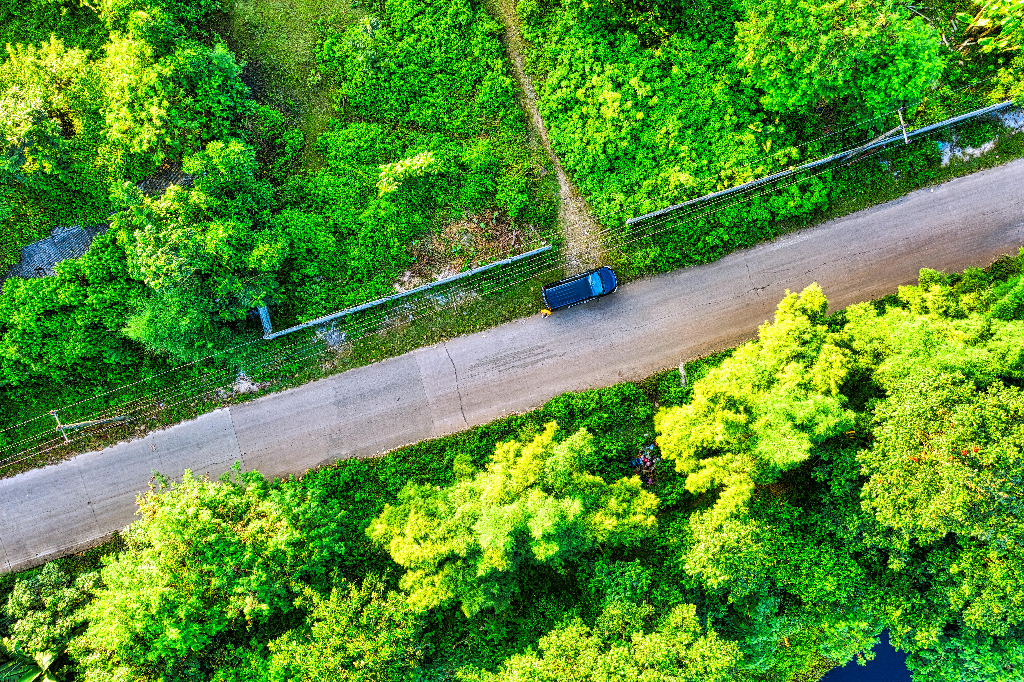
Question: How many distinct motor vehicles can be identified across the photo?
1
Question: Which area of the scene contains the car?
center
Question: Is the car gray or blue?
blue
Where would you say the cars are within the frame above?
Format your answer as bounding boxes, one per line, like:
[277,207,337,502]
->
[539,265,622,314]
